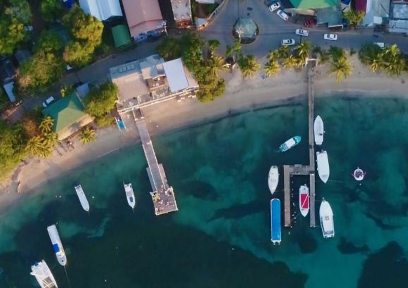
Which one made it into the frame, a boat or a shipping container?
boat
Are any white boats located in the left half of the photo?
Yes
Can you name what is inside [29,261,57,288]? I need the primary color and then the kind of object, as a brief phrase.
white boat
